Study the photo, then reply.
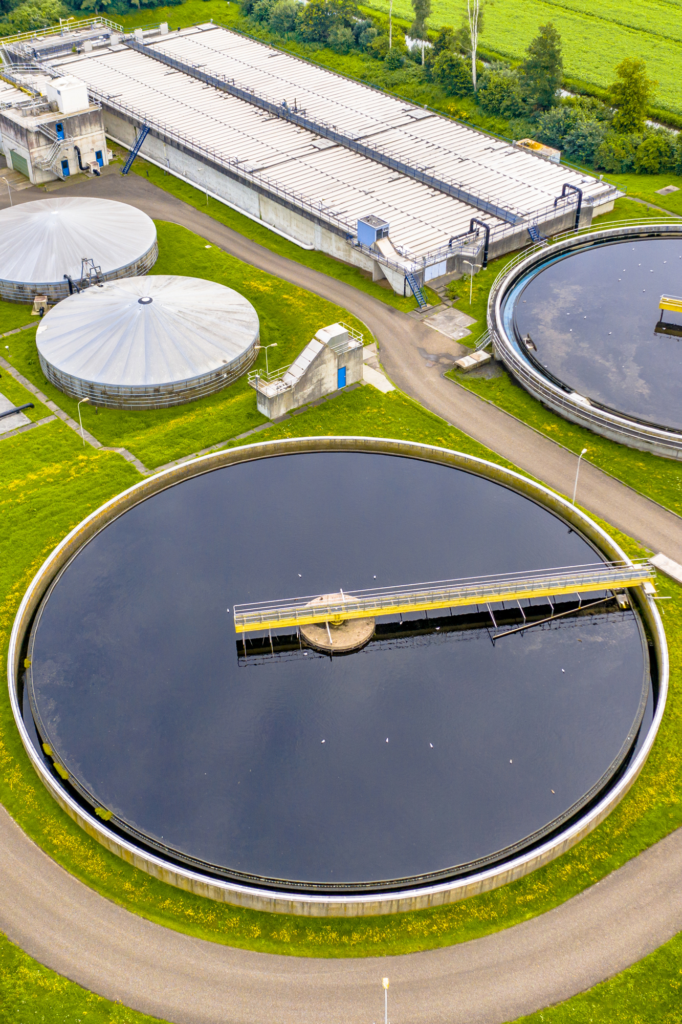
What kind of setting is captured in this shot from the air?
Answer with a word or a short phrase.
industrial area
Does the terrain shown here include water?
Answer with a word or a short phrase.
Yes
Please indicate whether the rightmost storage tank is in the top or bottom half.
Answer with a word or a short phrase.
top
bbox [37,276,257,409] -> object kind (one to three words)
storage tank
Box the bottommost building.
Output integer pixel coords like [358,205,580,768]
[243,321,364,419]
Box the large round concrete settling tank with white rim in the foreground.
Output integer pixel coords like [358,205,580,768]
[6,436,667,916]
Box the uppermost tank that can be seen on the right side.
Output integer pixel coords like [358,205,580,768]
[487,220,682,462]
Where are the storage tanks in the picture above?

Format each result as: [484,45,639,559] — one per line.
[487,220,682,462]
[37,276,257,409]
[6,436,667,916]
[0,196,156,305]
